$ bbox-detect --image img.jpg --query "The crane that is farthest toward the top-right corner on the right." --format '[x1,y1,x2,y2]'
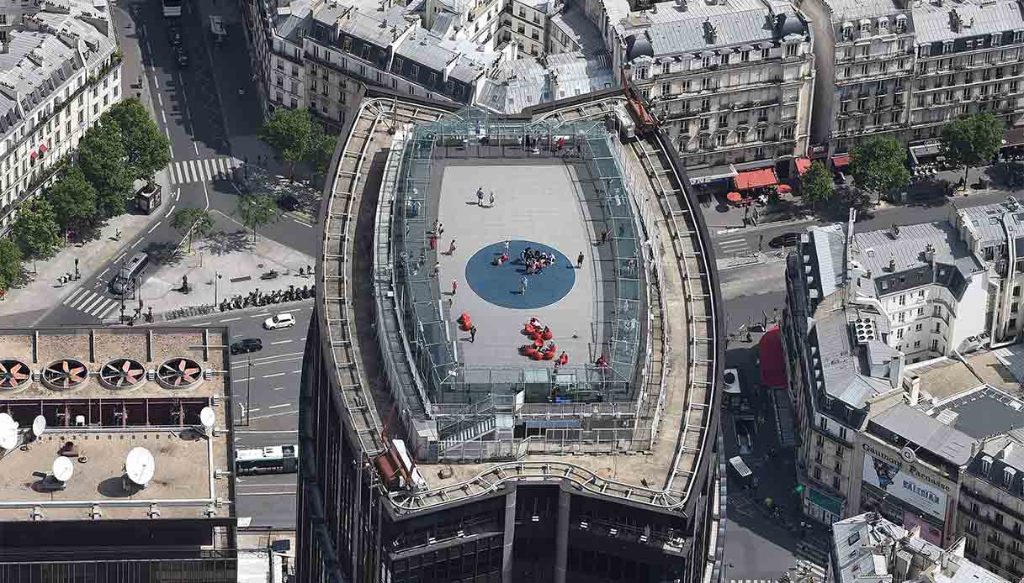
[617,67,661,150]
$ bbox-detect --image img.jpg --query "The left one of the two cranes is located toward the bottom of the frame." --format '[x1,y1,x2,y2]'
[373,407,427,502]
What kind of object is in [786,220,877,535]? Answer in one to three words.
building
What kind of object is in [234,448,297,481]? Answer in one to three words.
bus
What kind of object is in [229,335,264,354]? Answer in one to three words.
car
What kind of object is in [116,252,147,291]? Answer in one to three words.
van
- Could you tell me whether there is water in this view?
No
